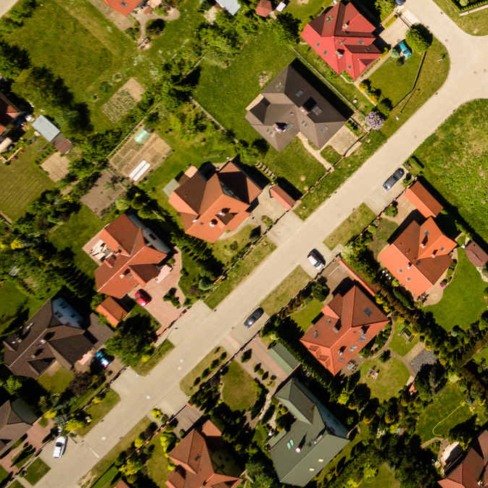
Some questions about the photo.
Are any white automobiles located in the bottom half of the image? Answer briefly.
Yes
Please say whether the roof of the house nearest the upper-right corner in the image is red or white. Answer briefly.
red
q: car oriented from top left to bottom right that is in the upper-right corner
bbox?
[396,37,414,60]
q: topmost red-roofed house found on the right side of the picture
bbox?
[300,1,382,80]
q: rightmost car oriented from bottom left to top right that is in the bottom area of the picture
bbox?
[240,304,268,331]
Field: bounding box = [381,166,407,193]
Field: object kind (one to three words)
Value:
car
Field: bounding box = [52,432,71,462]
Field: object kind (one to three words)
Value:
car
